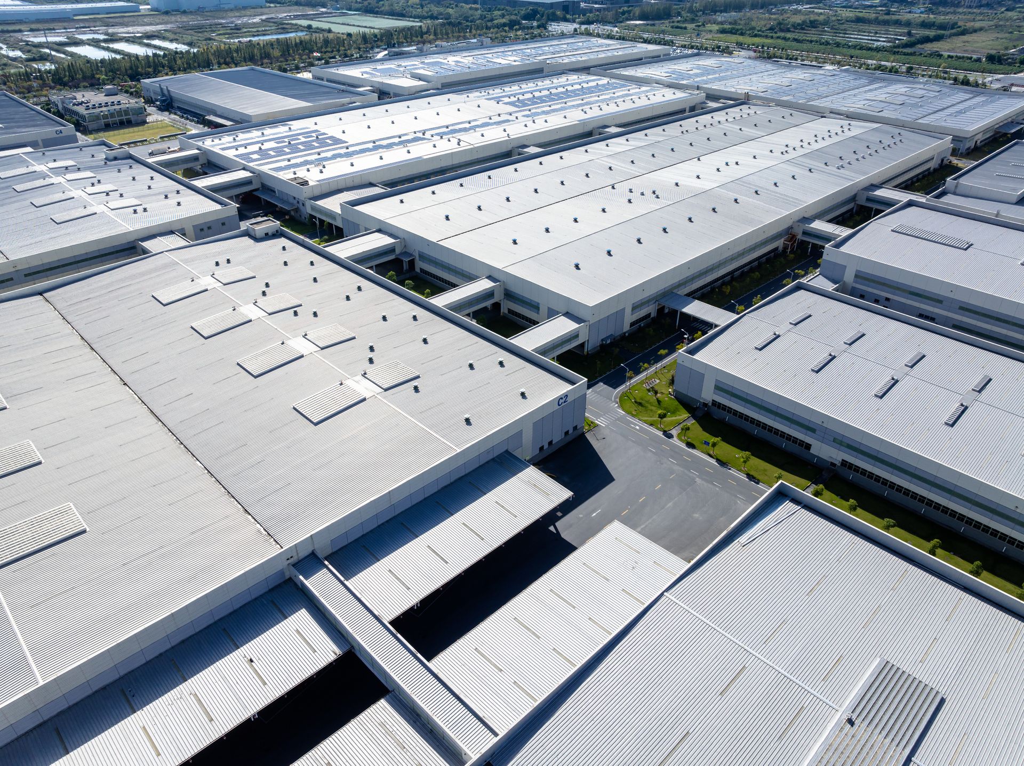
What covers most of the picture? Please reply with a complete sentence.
What you mostly see from above here is buildings.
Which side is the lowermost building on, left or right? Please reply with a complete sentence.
The lowermost building sits on the right side.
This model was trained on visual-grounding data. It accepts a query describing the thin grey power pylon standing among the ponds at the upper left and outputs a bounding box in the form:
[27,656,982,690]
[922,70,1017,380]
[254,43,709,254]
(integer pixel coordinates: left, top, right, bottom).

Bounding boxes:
[29,0,54,59]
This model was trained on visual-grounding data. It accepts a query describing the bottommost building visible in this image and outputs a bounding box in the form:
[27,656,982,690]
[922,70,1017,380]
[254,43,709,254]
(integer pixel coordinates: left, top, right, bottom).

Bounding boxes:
[472,483,1024,766]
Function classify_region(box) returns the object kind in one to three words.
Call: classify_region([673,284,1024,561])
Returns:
building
